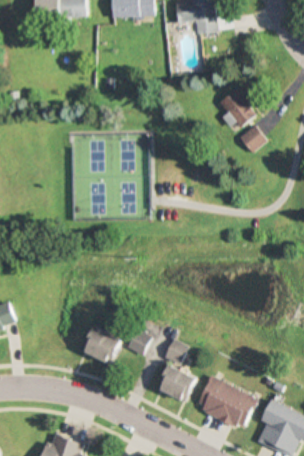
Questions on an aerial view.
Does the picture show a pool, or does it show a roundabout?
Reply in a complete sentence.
Looking from above, you can make out a pool.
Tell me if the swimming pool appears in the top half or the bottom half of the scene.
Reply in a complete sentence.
It is in the top half that the swimming pool appears.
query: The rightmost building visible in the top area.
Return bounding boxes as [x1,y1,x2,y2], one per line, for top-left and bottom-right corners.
[242,125,268,152]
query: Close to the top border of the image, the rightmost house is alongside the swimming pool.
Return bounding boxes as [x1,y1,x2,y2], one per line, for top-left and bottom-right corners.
[175,0,222,36]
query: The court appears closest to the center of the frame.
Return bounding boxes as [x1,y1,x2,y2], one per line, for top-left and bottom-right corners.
[122,182,137,214]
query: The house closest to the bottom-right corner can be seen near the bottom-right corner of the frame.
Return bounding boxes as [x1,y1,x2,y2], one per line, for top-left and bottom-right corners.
[258,399,304,456]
